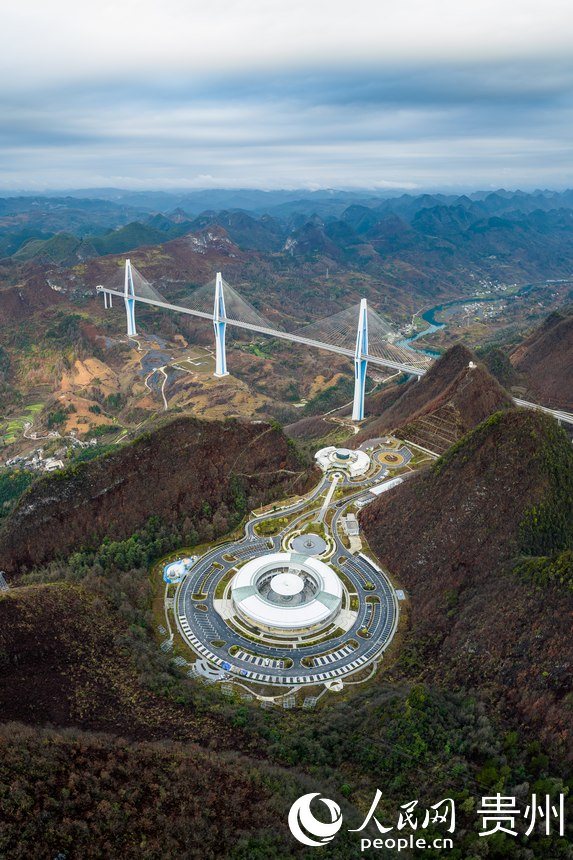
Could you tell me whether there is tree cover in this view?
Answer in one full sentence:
Yes, tree cover shows up in the scene.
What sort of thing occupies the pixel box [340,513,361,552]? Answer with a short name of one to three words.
building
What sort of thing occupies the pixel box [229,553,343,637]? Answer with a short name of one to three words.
building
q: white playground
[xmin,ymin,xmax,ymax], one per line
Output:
[164,554,199,584]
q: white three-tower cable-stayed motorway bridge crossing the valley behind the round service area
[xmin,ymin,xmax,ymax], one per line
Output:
[83,259,421,416]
